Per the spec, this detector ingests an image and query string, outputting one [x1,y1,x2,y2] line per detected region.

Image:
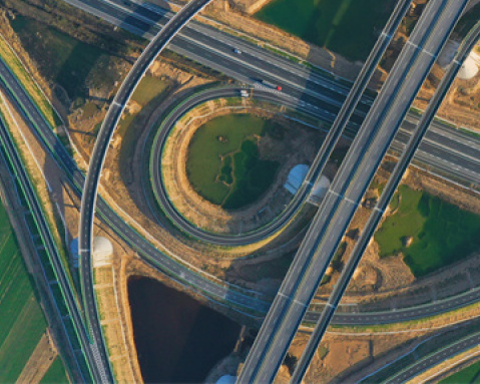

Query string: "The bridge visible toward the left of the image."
[78,0,213,249]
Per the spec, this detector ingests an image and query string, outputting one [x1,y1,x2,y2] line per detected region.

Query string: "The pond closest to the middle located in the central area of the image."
[188,115,279,208]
